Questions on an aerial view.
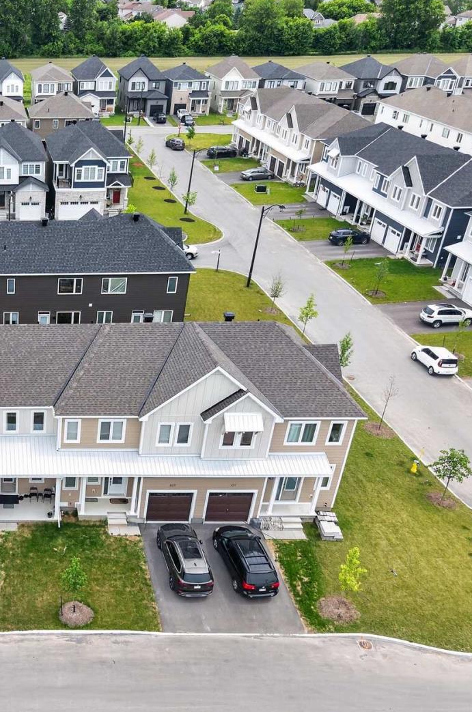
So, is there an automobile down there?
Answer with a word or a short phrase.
Yes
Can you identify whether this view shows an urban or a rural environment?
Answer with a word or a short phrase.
urban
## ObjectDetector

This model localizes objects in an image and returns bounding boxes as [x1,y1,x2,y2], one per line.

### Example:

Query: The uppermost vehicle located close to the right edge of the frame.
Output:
[419,301,472,328]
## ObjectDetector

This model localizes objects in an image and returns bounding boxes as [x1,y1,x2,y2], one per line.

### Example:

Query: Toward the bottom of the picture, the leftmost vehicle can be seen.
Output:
[157,527,215,600]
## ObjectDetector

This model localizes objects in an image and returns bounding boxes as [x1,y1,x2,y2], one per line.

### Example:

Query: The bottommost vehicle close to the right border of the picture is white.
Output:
[411,345,463,377]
